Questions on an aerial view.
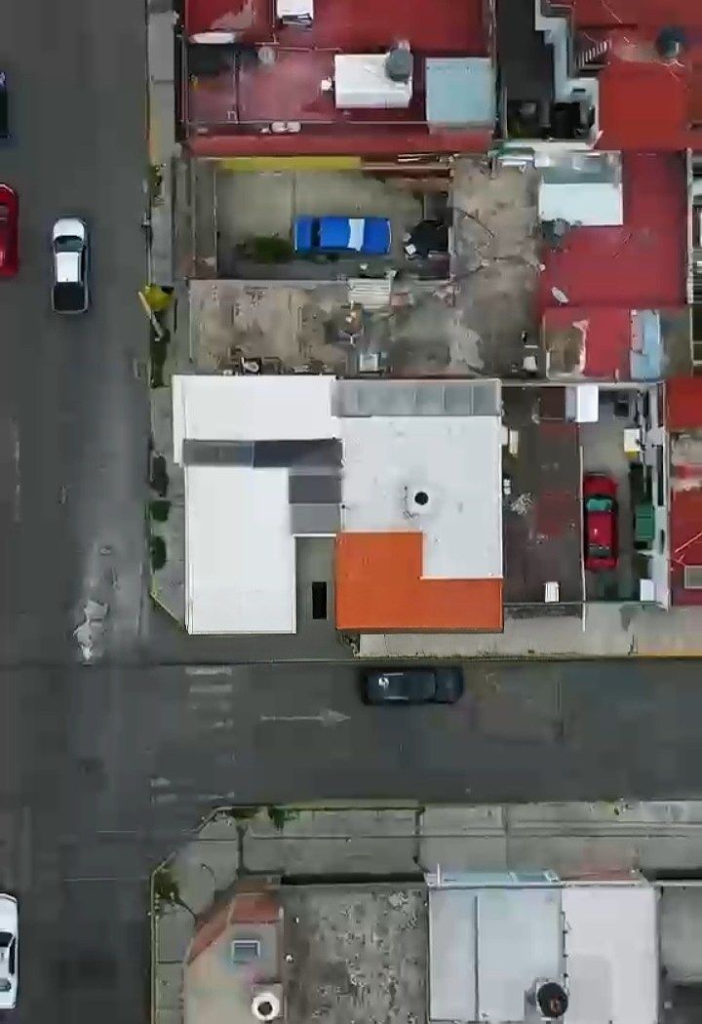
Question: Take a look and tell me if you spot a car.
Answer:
Yes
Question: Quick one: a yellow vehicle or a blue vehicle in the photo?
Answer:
blue vehicle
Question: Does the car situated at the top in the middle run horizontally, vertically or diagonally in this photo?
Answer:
horizontally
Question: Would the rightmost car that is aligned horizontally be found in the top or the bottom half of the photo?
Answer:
bottom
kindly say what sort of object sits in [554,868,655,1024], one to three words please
house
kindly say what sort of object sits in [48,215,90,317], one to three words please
truck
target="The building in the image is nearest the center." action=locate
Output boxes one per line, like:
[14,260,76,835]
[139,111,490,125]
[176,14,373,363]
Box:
[174,375,503,634]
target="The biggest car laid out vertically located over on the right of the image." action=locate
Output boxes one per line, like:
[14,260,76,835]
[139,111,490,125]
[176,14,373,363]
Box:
[582,473,621,573]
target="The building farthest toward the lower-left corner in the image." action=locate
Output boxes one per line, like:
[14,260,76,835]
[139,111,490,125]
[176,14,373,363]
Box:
[185,877,284,1024]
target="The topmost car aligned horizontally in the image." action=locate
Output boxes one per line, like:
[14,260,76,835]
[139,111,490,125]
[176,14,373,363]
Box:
[292,213,393,256]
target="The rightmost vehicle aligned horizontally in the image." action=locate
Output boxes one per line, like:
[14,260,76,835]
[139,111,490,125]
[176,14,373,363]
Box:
[359,664,465,708]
